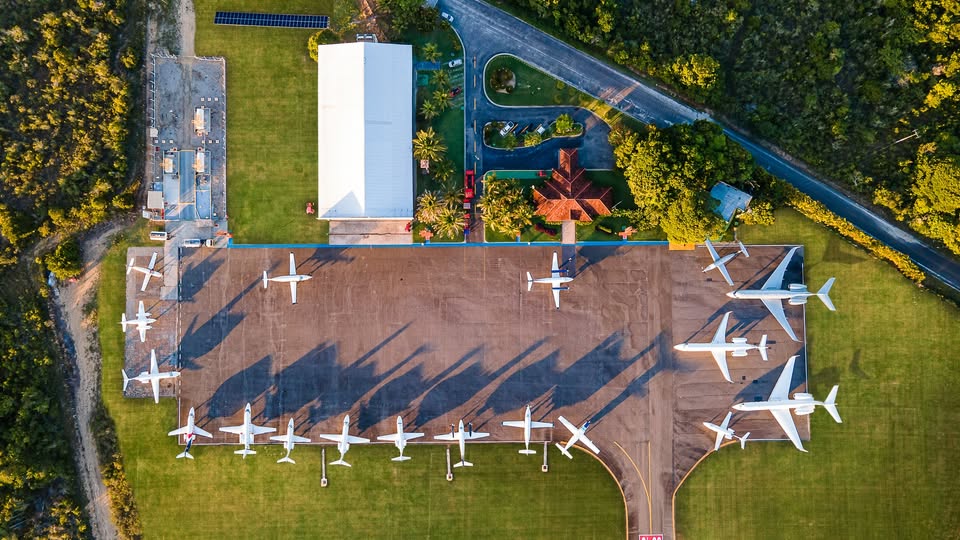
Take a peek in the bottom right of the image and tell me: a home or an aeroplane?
aeroplane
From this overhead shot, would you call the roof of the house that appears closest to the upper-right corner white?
No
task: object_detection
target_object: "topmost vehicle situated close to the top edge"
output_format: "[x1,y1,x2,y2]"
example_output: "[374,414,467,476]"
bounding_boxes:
[441,10,456,23]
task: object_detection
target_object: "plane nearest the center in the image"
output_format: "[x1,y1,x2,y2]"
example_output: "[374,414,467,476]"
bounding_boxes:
[528,252,573,309]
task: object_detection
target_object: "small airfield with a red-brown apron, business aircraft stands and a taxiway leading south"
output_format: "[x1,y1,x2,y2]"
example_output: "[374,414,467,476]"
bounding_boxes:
[125,219,810,540]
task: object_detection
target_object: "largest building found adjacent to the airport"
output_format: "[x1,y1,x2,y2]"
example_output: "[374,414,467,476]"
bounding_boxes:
[313,40,415,219]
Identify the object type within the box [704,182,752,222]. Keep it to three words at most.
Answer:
house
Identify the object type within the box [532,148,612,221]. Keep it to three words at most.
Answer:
building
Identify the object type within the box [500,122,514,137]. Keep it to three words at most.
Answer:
car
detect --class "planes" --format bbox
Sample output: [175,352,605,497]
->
[674,310,765,382]
[269,419,311,464]
[319,415,368,471]
[121,301,156,342]
[263,252,313,305]
[727,246,834,343]
[528,252,573,309]
[128,251,163,292]
[502,405,555,456]
[122,349,181,403]
[220,404,278,459]
[557,414,599,456]
[731,352,841,453]
[378,416,425,461]
[433,421,491,470]
[704,412,750,451]
[169,408,214,458]
[700,239,750,286]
